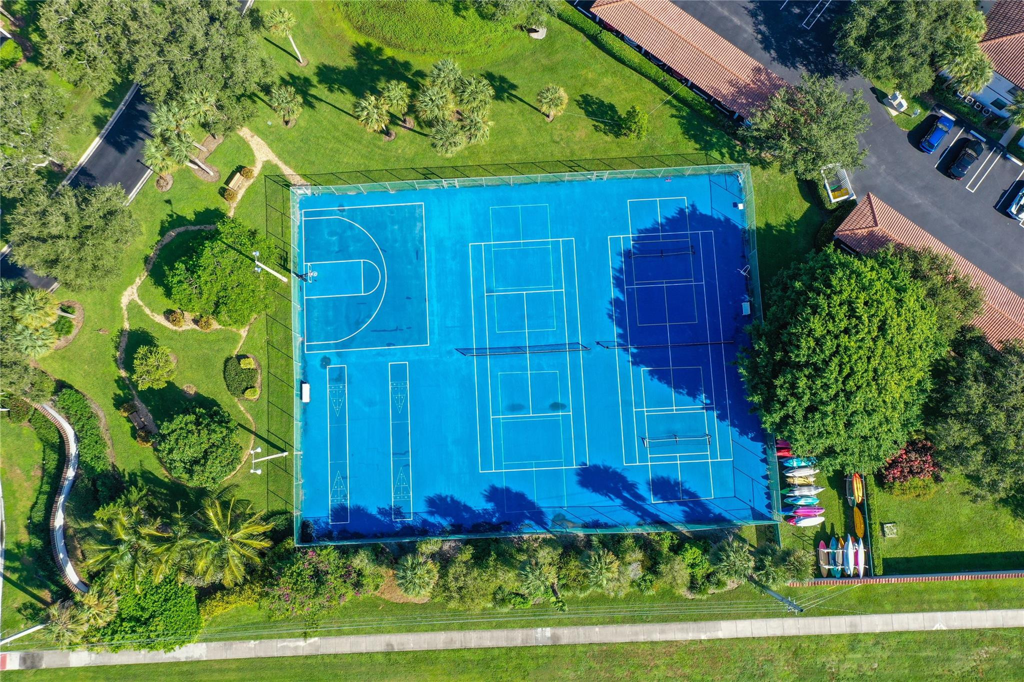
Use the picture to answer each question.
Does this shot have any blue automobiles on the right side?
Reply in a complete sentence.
Yes, there is a blue automobile on the right side.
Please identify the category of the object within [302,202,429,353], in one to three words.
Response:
basketball court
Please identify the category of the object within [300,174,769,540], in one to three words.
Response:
sports court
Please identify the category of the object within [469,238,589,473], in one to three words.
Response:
tennis court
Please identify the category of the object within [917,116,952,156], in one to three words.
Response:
car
